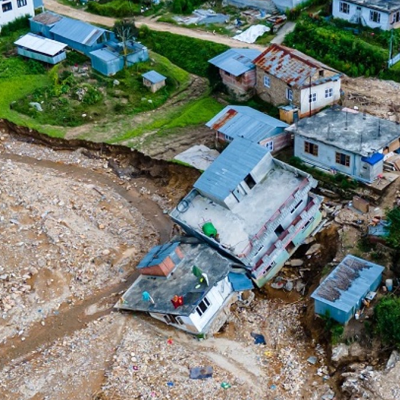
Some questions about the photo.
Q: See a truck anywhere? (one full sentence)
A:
No, no truck is visible in the scene.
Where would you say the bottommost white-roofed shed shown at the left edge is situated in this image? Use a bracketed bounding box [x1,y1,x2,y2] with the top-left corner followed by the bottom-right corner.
[5,36,71,63]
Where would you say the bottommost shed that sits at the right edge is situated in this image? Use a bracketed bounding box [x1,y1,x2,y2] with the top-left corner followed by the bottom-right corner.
[308,252,388,323]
